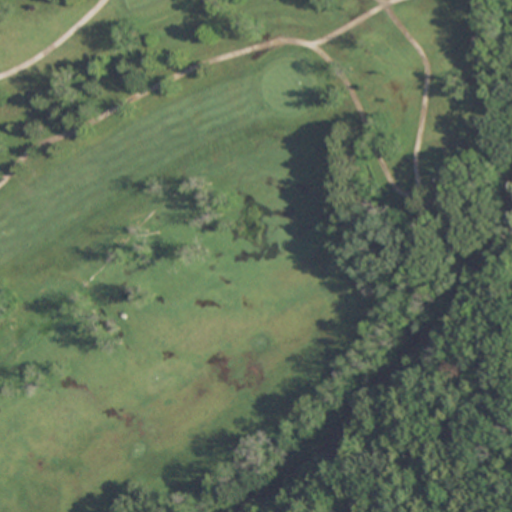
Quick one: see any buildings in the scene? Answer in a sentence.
No, I find no building anywhere in the image.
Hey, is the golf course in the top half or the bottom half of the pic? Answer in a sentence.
The top half of the photo is where the golf course is.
